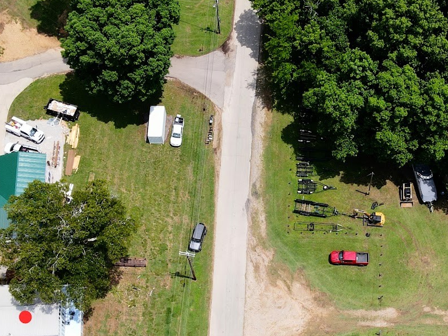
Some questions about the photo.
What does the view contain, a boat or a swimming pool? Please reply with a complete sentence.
The one in the frame is a boat.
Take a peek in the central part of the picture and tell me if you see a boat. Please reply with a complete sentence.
No, no boat can be made out in the central part of the picture.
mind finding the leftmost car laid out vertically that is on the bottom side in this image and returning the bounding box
[188,219,207,251]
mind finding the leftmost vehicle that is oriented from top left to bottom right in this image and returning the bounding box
[3,112,42,142]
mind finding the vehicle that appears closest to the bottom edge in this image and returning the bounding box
[329,248,370,266]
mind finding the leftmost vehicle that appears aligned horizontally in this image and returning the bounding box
[3,140,42,152]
